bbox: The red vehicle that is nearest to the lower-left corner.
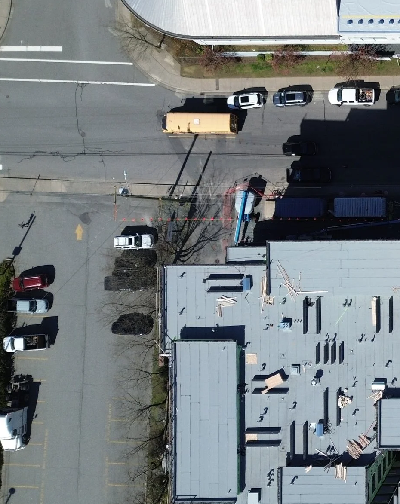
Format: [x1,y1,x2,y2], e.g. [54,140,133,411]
[14,273,49,292]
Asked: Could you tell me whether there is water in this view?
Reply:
No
